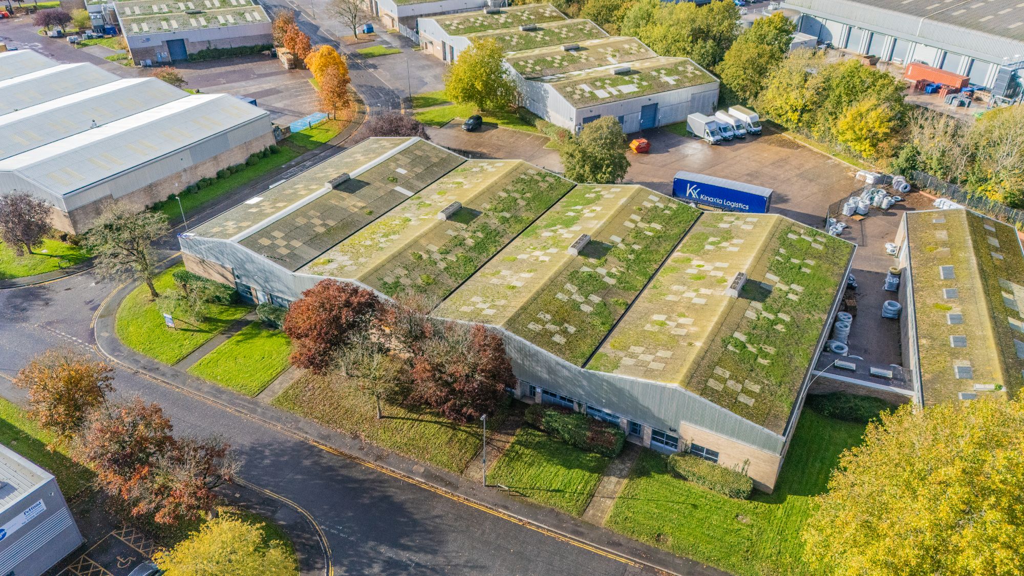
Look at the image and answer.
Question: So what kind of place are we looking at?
industrial area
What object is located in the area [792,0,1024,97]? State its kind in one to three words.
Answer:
building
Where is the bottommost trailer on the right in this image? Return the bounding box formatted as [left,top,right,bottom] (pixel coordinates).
[673,172,771,211]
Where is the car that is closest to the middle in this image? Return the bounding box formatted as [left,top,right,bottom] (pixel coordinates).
[461,116,483,132]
